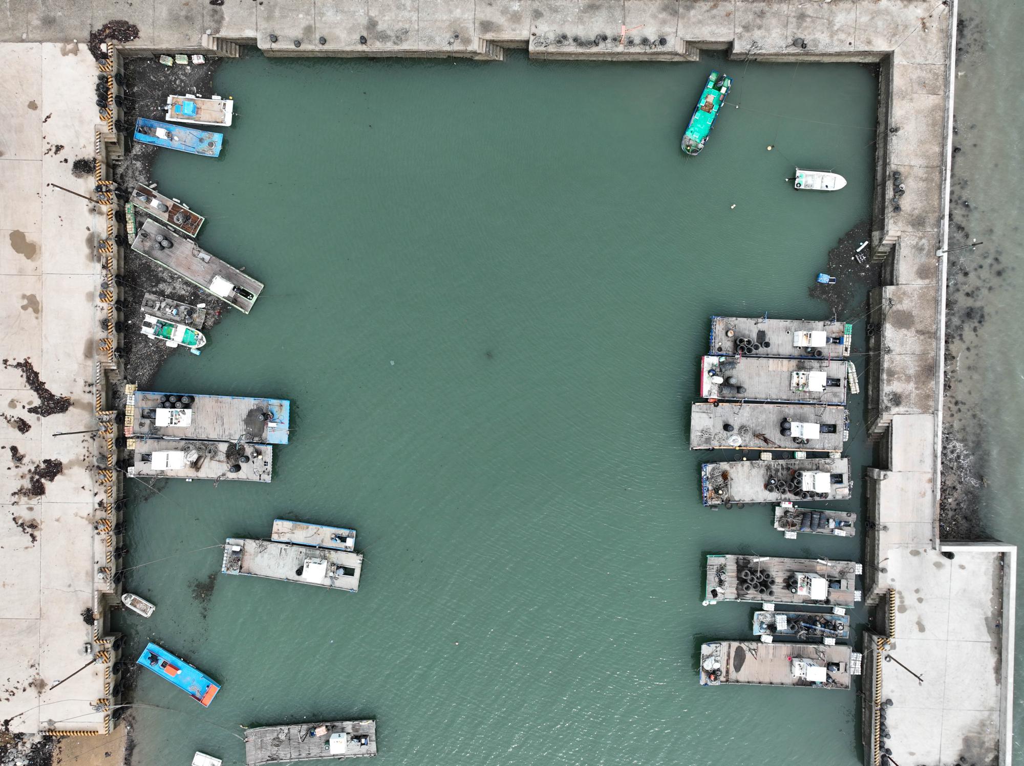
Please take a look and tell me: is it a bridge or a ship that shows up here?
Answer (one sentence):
It is a ship that can be seen here.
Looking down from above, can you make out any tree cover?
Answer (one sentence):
No, the scene doesn't show any tree cover.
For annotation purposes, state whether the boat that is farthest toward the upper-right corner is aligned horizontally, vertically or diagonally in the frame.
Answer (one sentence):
What the image shows is the boat that is farthest toward the upper-right corner lying horizontally.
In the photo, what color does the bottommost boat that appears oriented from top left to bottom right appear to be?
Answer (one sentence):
From above, the bottommost boat that appears oriented from top left to bottom right appears blue.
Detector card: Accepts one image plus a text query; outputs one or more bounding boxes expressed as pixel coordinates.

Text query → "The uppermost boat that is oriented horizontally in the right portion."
[785,168,848,191]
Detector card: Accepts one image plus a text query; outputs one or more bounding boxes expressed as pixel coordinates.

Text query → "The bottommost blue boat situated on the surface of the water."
[137,643,222,708]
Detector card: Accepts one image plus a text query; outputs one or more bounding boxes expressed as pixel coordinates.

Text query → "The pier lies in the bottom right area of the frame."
[857,539,1018,766]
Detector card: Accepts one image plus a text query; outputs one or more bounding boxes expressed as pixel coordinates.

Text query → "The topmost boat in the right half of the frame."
[681,70,734,157]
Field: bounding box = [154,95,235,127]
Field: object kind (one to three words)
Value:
boat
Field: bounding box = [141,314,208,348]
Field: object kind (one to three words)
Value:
boat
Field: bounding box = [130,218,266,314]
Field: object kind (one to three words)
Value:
ship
